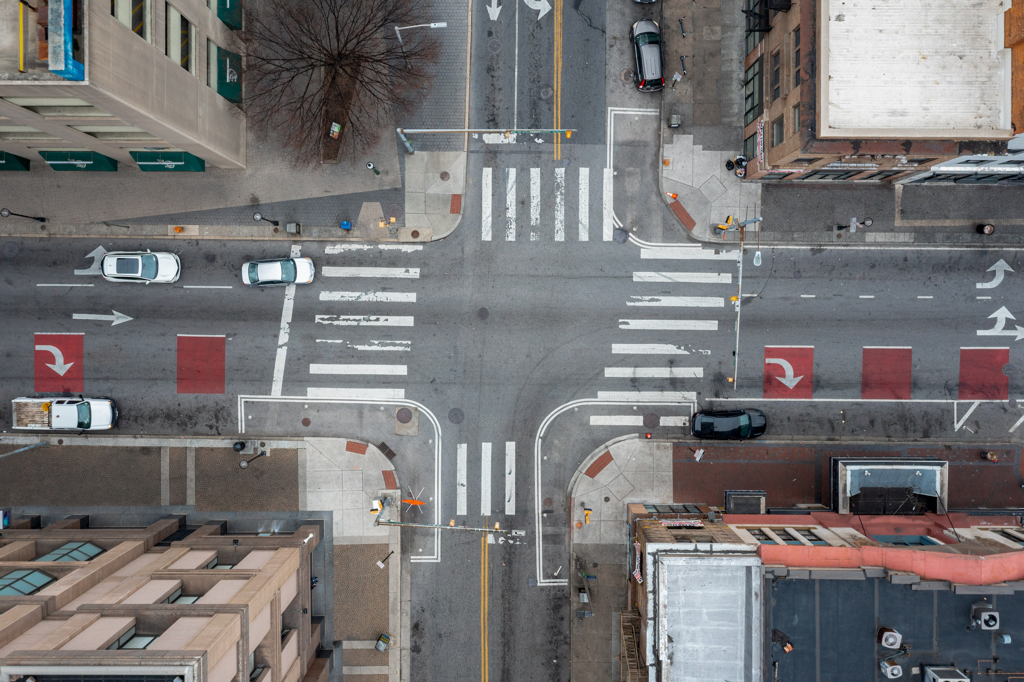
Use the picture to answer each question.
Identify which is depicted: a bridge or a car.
car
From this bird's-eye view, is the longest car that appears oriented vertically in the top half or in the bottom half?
top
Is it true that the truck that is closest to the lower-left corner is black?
No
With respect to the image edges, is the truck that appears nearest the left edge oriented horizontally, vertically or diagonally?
horizontally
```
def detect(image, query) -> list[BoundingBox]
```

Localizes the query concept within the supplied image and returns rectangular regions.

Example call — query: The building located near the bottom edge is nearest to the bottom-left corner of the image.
[0,531,310,682]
